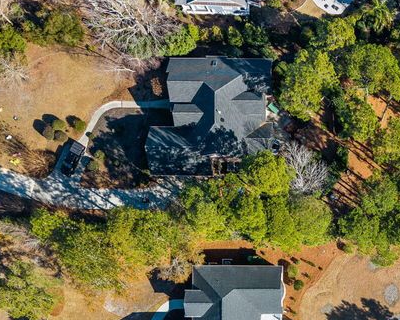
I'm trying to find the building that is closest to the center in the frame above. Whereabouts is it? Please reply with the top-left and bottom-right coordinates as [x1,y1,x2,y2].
[138,57,280,176]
